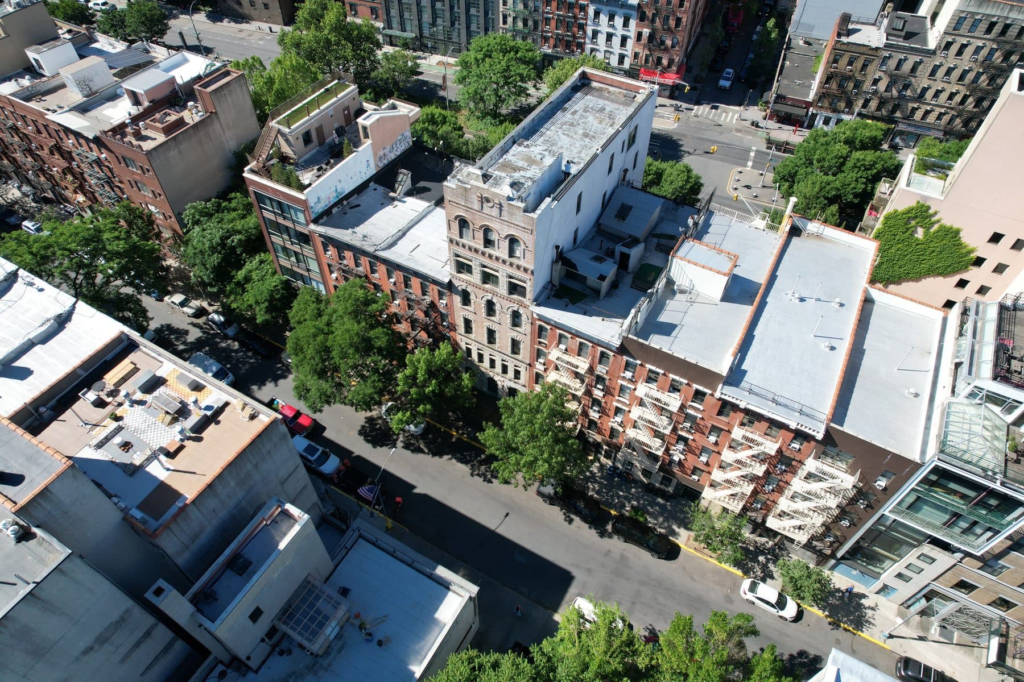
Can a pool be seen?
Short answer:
No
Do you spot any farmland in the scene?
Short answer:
No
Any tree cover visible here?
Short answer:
Yes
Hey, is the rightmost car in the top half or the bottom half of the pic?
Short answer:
bottom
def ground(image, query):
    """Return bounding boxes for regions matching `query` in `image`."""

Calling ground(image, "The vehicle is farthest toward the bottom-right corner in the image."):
[889,651,957,682]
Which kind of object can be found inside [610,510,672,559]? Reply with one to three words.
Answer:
car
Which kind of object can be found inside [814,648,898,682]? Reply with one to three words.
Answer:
truck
